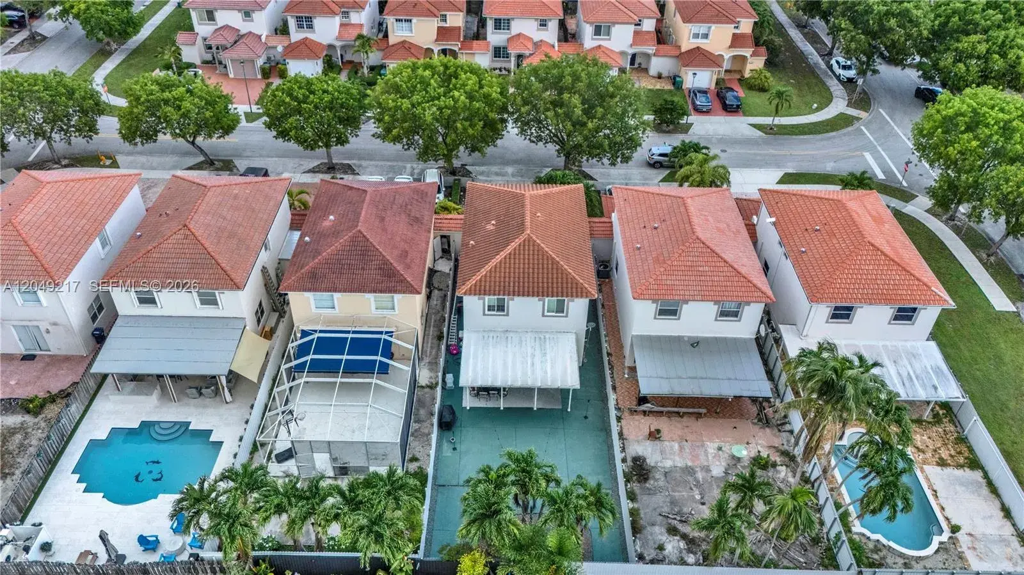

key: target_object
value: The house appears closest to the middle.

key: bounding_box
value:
[455,179,599,412]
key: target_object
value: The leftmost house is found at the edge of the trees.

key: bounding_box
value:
[0,168,144,353]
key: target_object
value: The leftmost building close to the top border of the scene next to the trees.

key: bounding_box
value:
[178,0,289,77]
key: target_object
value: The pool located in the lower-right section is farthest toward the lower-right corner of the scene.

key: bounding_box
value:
[824,422,959,566]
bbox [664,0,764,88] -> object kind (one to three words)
house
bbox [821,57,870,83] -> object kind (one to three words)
car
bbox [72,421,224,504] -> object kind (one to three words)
swimming pool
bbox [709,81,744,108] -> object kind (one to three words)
car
